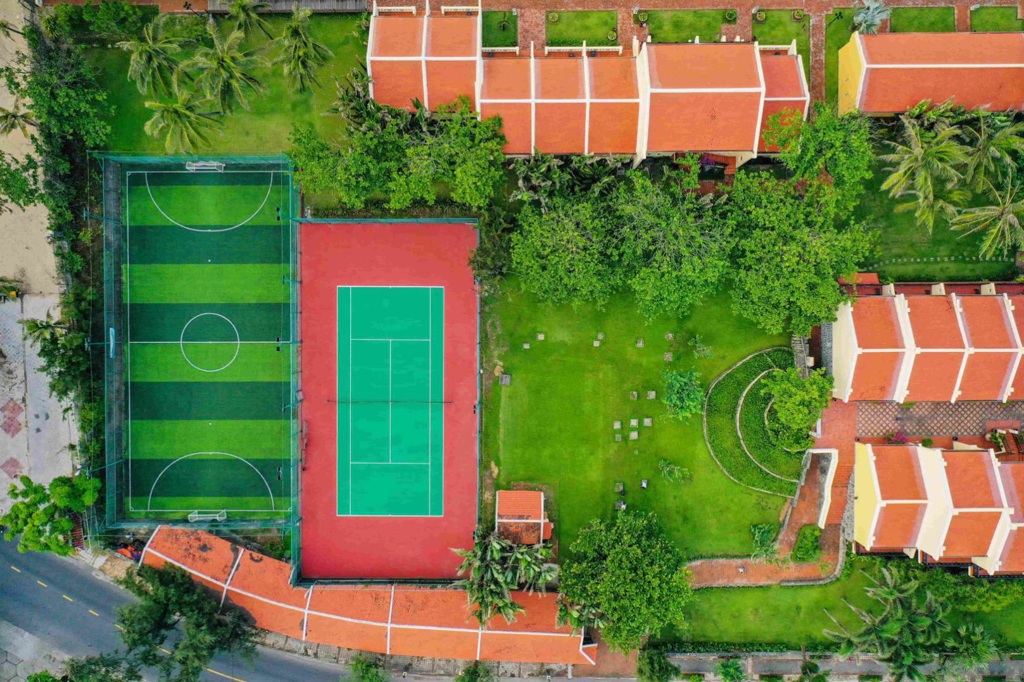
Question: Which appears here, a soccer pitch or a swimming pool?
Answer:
soccer pitch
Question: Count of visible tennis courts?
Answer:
one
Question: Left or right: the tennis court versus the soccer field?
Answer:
on the right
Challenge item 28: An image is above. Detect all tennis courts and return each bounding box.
[302,223,477,578]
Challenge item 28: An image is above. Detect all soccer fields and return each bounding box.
[122,167,301,518]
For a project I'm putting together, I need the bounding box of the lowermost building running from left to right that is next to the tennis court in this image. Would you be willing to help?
[137,526,597,666]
